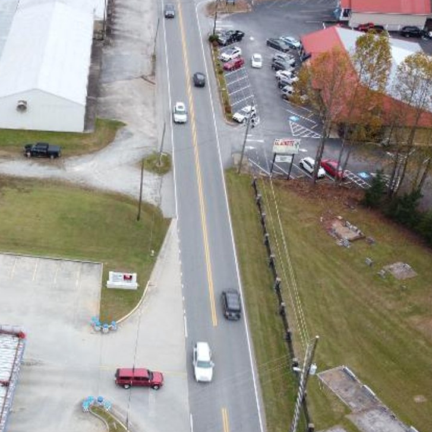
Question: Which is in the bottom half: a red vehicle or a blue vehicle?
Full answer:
The feature located in the bottom half is a red vehicle.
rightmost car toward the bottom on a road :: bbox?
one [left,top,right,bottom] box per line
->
[222,290,242,317]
